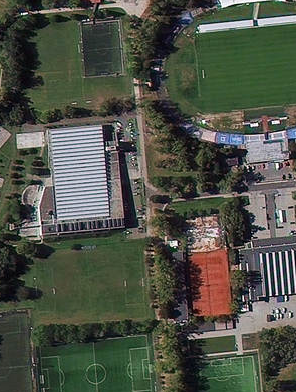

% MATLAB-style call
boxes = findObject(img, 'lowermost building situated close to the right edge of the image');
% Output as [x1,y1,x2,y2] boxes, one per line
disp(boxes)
[231,236,296,301]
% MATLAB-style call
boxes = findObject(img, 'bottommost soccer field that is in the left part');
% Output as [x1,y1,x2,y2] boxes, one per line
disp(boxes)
[39,333,156,392]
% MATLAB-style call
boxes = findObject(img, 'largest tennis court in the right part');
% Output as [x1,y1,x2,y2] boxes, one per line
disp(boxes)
[189,249,235,317]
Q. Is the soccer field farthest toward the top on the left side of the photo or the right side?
right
